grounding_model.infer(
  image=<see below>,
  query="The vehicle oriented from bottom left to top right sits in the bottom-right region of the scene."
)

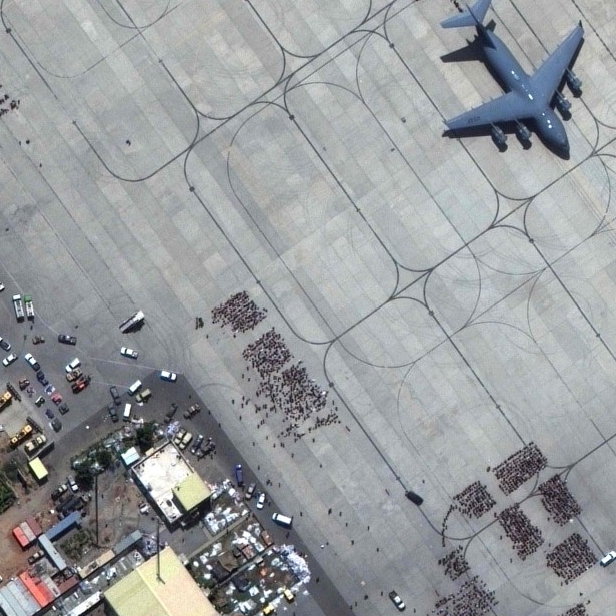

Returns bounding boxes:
[600,552,616,565]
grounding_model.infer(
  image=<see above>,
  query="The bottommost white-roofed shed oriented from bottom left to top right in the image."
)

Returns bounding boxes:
[63,591,103,616]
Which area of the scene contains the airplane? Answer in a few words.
top right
